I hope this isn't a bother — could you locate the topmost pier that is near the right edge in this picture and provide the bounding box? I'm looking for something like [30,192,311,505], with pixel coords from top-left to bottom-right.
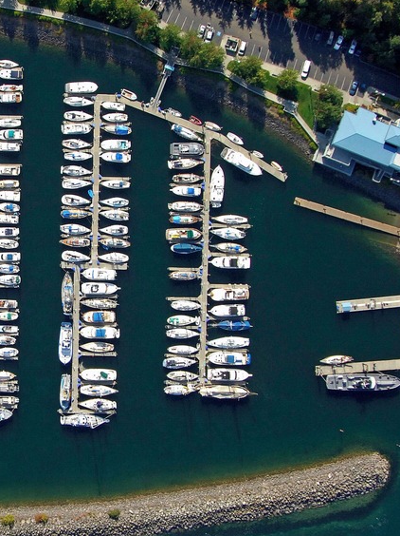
[293,197,398,234]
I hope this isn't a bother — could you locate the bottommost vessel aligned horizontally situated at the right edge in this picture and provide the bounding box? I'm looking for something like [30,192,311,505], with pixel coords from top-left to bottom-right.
[324,374,400,390]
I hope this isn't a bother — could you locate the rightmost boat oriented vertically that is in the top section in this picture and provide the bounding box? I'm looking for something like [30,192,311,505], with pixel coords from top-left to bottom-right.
[211,164,225,204]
